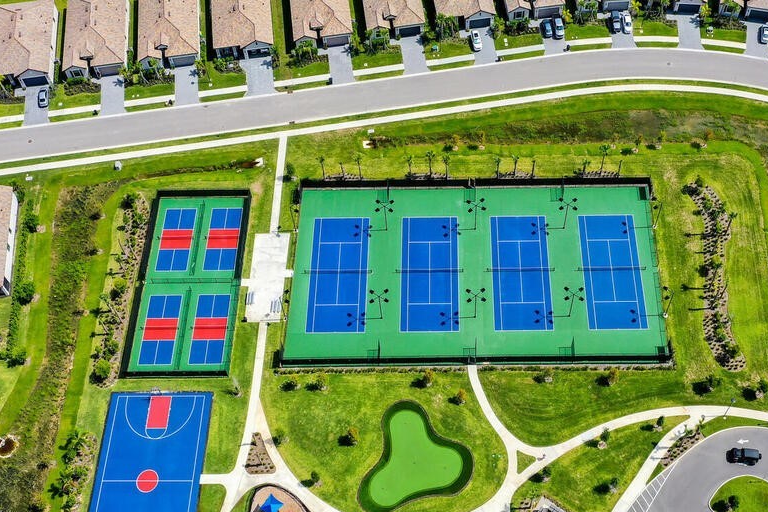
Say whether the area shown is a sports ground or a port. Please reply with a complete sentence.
The area seen from above is a sports ground.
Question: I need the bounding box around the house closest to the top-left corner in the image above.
[0,0,57,85]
